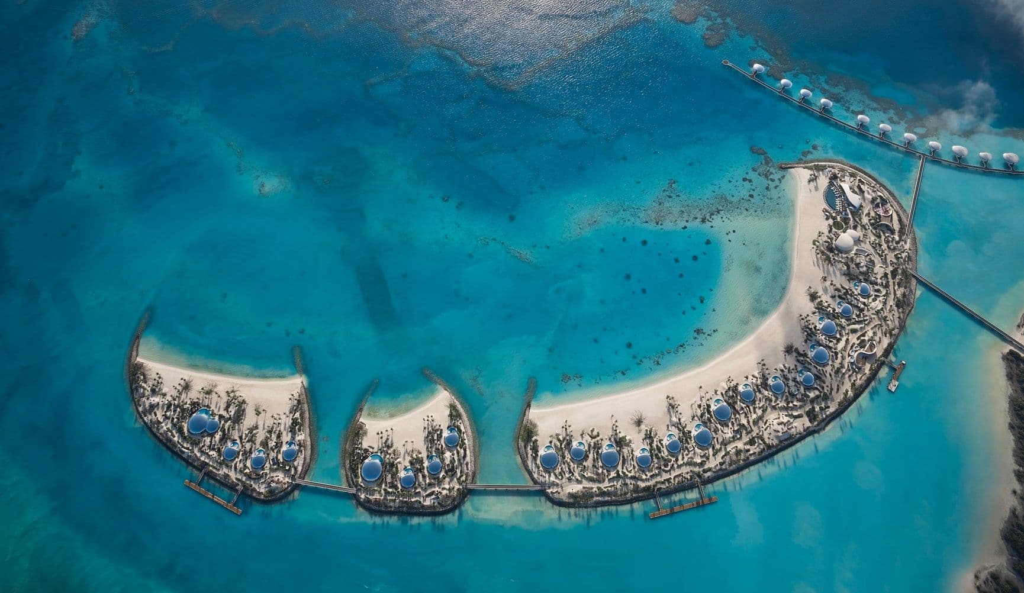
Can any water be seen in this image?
Yes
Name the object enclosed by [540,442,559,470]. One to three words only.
house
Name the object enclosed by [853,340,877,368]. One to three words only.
building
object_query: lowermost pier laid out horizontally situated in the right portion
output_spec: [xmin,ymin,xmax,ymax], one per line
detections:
[649,481,718,518]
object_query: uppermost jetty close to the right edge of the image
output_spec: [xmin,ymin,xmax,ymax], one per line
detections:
[723,59,1024,175]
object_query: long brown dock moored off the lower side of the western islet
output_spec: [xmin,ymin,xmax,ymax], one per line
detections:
[185,468,242,514]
